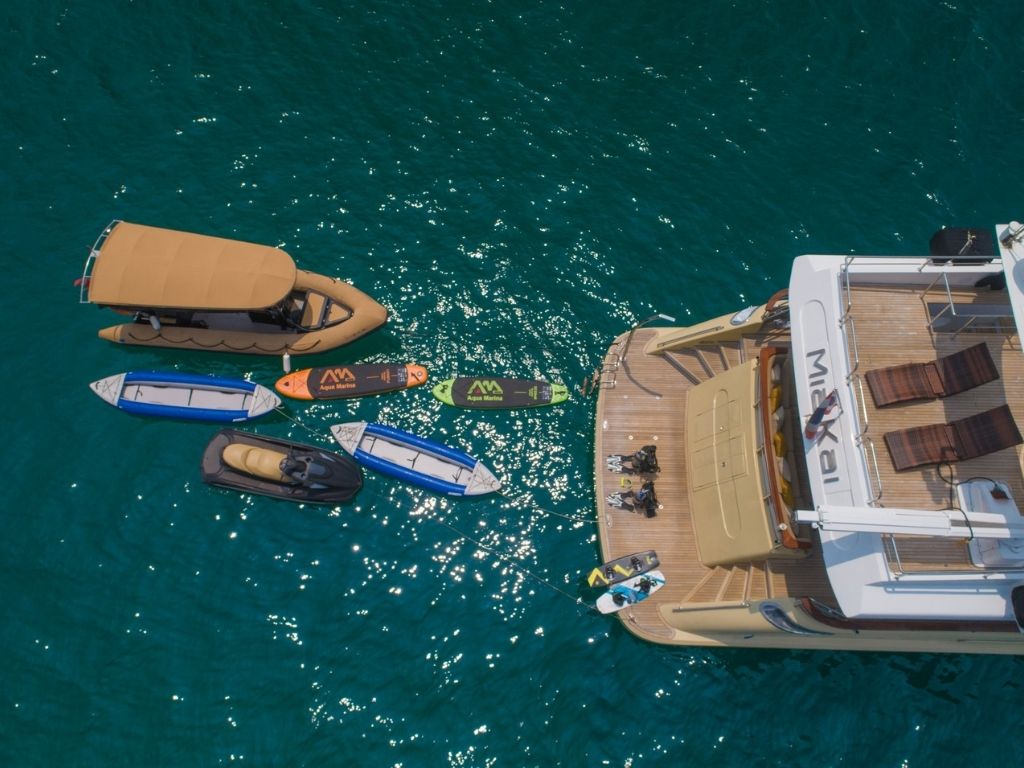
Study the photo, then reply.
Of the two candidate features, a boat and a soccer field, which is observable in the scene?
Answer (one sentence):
The image shows a boat.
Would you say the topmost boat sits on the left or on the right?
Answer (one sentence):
The topmost boat sits on the left side.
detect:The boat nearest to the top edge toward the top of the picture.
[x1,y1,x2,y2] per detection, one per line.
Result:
[74,222,388,354]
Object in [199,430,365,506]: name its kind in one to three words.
boat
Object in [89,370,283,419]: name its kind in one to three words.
boat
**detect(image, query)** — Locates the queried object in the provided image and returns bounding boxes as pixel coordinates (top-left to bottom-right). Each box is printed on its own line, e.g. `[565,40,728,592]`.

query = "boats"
[331,420,500,492]
[199,430,365,506]
[89,370,283,419]
[581,222,1024,656]
[74,222,388,354]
